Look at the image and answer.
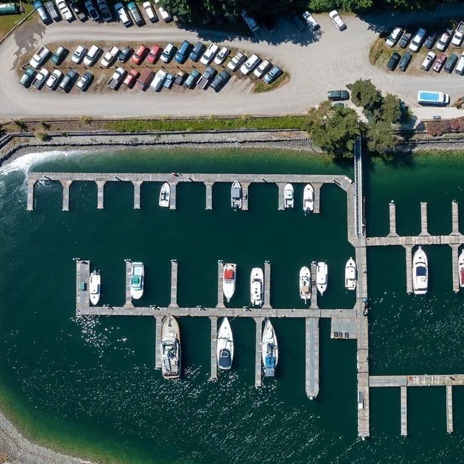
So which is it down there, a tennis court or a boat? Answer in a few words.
boat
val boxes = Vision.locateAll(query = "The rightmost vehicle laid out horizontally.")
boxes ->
[417,93,449,105]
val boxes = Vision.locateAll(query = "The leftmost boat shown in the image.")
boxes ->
[89,272,102,305]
